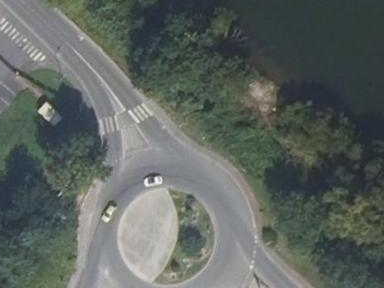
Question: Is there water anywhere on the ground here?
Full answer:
Yes, water shows up in the scene.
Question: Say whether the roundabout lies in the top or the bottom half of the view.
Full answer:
You can find the roundabout in the bottom half.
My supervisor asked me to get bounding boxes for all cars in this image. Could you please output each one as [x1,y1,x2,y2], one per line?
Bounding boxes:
[144,177,163,187]
[103,204,117,222]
